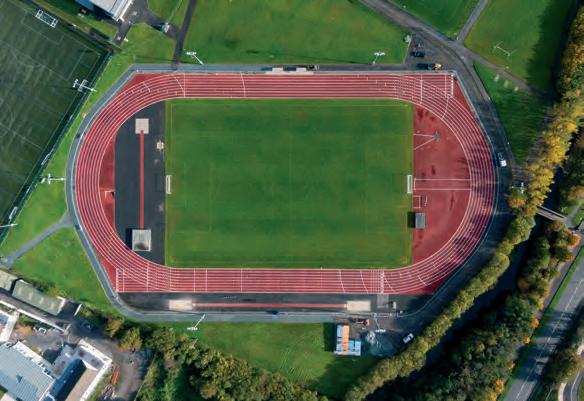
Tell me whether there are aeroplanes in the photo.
No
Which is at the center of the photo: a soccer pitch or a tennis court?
soccer pitch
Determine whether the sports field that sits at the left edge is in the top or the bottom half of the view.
top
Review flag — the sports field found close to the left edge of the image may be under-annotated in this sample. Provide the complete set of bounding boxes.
[0,0,112,245]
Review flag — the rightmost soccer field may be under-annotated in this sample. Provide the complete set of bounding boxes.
[166,98,413,268]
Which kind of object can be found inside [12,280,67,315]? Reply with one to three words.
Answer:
building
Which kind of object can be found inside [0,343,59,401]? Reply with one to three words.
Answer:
building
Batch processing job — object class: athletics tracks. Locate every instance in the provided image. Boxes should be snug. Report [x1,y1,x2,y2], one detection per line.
[74,74,496,293]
